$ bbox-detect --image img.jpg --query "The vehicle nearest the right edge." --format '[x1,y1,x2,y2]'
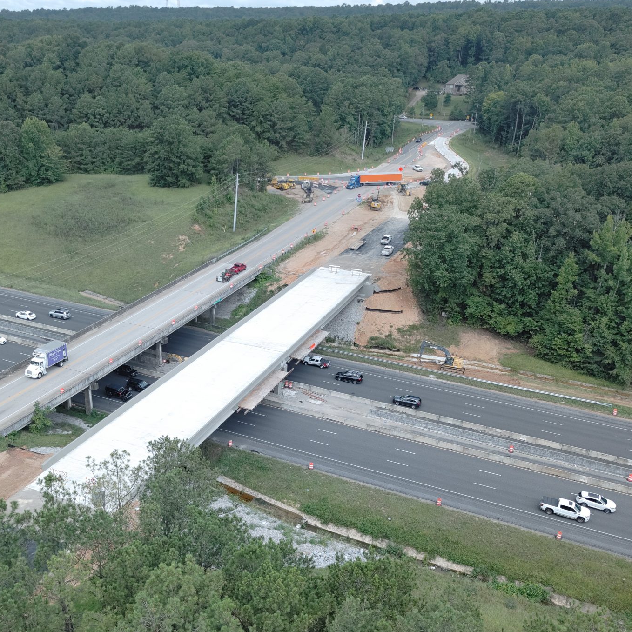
[577,489,618,513]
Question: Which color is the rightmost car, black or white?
white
